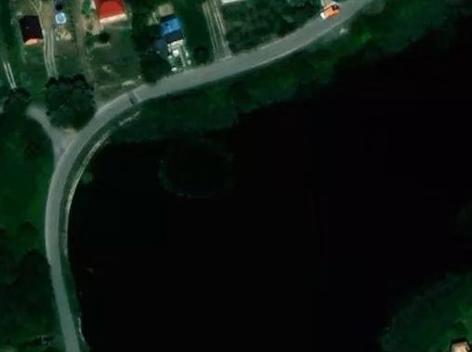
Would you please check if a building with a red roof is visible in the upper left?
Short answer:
Yes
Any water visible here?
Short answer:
Yes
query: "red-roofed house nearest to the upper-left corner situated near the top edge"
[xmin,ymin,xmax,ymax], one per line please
[95,0,125,22]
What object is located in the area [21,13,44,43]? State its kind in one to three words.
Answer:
house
